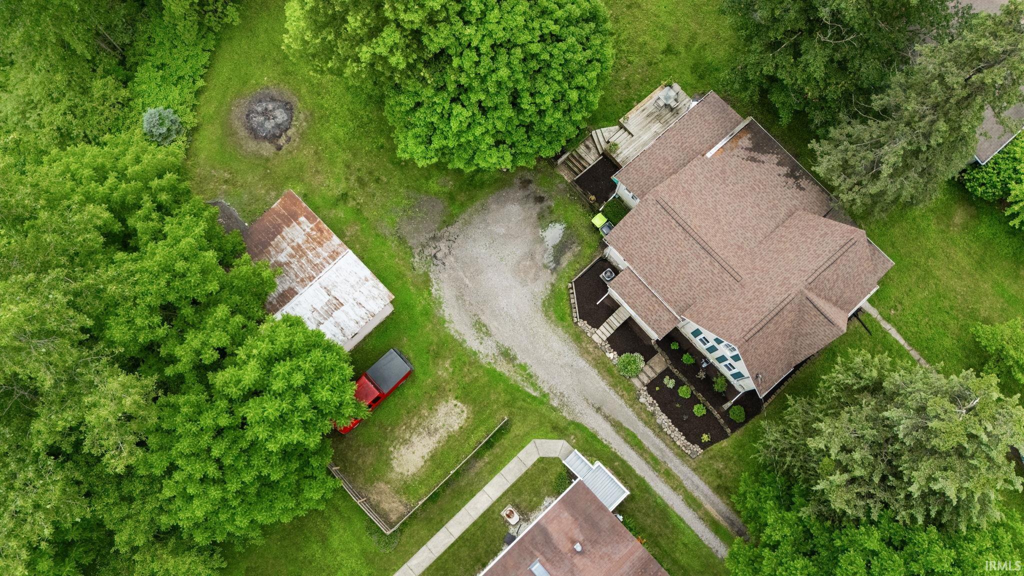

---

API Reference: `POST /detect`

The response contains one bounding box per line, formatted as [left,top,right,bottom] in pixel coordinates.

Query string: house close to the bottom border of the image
[481,478,670,576]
